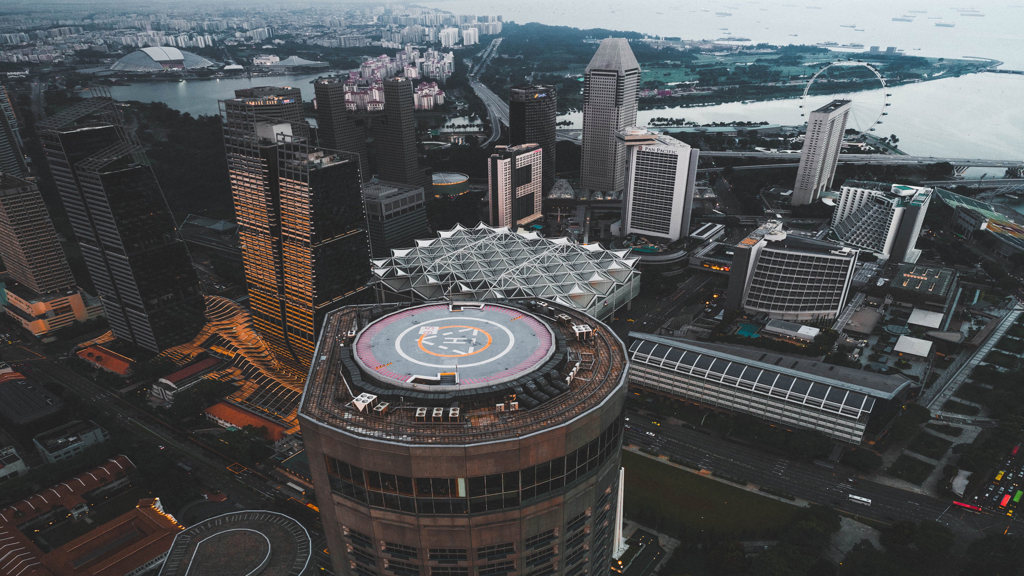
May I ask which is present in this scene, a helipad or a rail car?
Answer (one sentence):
The image shows a helipad.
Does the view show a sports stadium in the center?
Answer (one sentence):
No, there's no sports stadium to be seen in the center.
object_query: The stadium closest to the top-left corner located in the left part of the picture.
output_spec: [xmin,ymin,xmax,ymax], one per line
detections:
[105,45,217,70]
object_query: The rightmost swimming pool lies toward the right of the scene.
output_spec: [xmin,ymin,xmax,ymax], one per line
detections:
[736,322,762,338]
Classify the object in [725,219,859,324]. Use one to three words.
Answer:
building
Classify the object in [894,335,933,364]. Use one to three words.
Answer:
building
